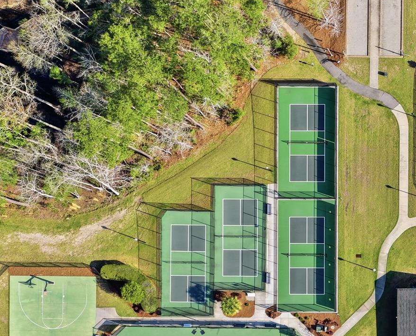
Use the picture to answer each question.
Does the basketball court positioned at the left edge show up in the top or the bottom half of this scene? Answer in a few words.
bottom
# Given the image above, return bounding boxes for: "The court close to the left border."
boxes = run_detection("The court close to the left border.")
[9,276,96,336]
